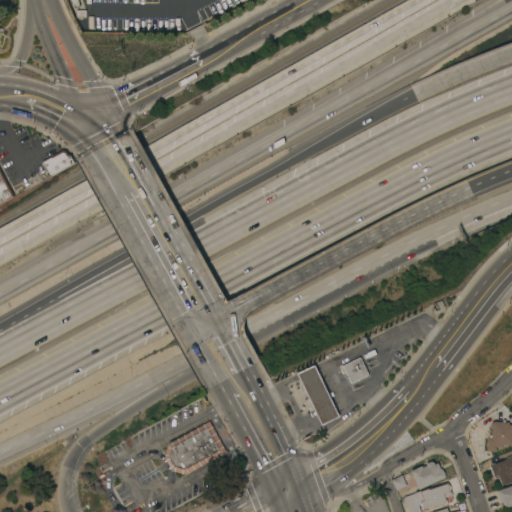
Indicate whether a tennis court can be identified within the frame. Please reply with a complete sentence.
No, no tennis court can be seen from above.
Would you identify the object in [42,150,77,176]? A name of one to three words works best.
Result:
building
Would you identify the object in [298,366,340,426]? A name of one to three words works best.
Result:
building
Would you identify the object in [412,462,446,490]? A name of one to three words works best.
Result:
house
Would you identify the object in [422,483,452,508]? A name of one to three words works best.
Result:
house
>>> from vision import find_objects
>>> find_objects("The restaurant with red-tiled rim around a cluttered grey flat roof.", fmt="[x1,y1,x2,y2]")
[166,422,227,474]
